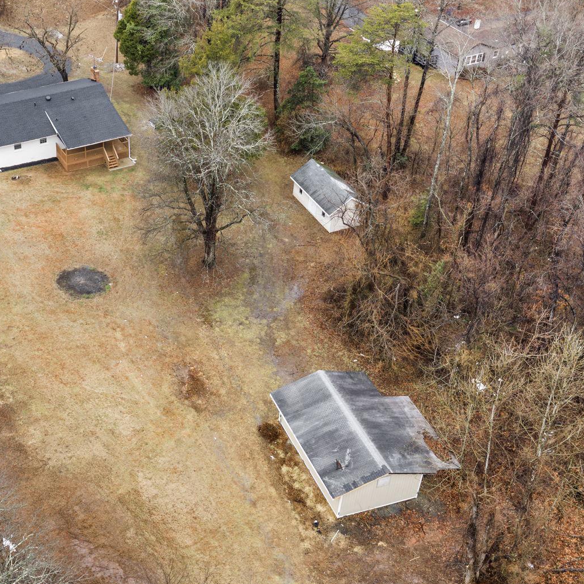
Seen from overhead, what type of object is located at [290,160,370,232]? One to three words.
shed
